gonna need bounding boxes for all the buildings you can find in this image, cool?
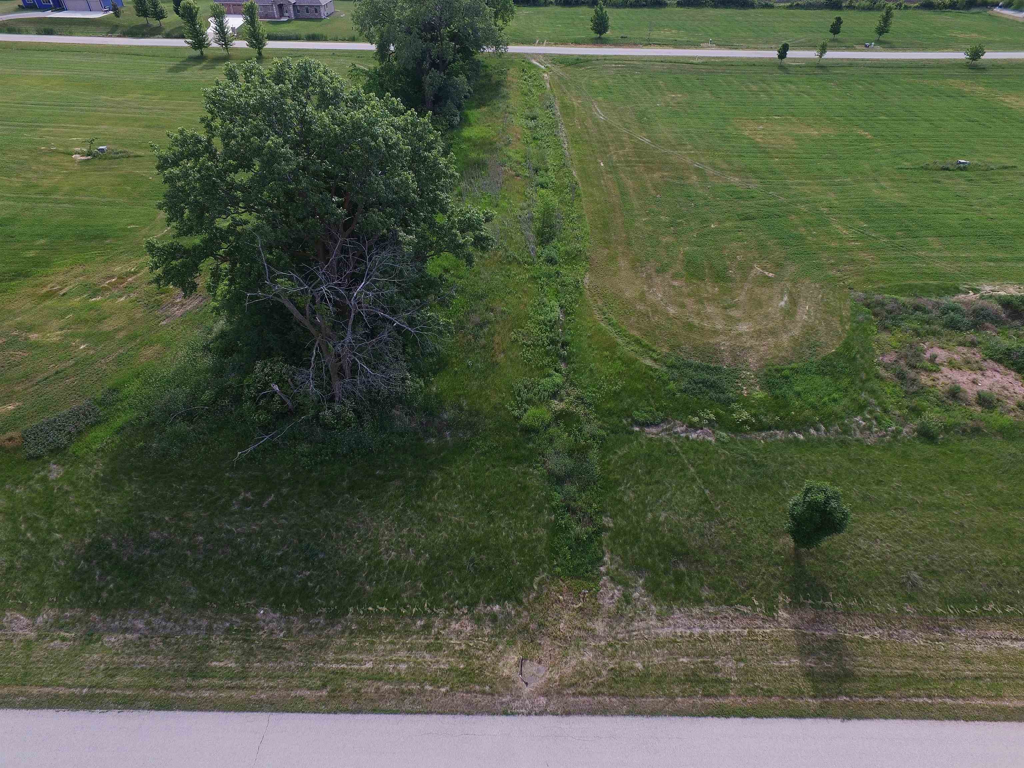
[30,0,125,11]
[215,0,331,20]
